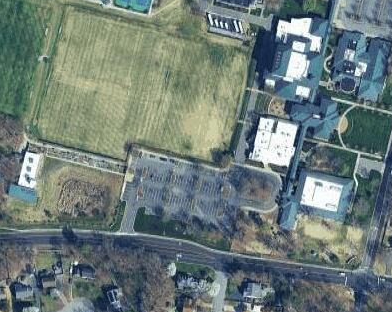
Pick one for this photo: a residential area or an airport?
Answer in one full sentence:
It's a residential area.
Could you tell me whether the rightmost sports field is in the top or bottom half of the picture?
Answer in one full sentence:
You can find the rightmost sports field in the top half.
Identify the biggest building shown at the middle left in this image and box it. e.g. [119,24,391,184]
[7,152,41,204]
